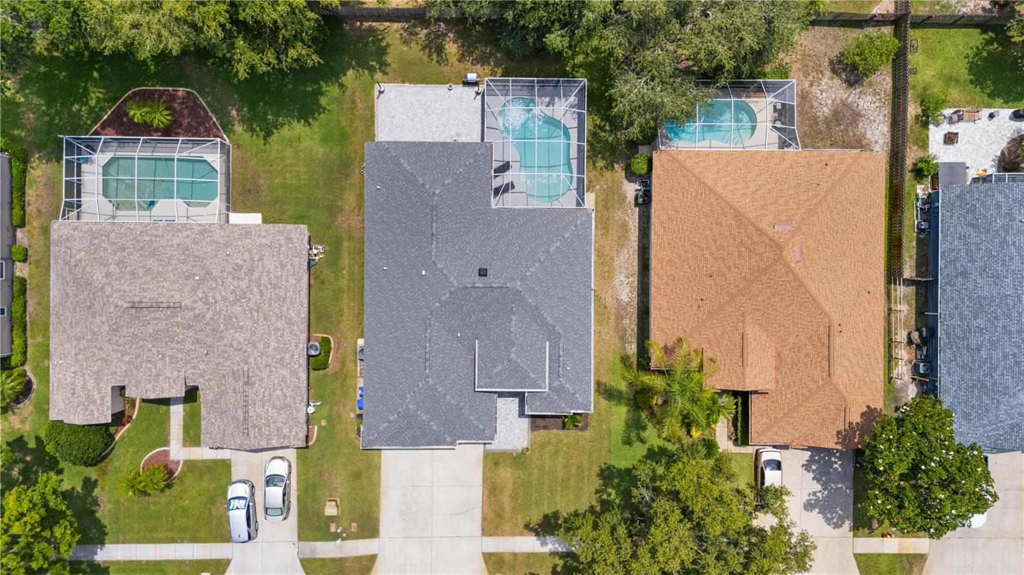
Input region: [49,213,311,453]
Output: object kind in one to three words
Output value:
house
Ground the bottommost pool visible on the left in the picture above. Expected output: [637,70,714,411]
[99,154,218,214]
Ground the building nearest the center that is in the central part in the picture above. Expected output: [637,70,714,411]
[360,140,594,449]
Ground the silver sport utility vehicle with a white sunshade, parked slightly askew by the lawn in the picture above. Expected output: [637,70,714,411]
[226,479,260,543]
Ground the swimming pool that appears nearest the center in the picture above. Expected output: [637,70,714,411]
[494,93,576,205]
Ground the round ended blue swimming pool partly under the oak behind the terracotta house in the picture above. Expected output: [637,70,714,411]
[660,93,761,148]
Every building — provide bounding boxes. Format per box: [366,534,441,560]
[915,183,1024,450]
[649,149,887,451]
[0,149,12,357]
[49,213,311,453]
[360,140,594,449]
